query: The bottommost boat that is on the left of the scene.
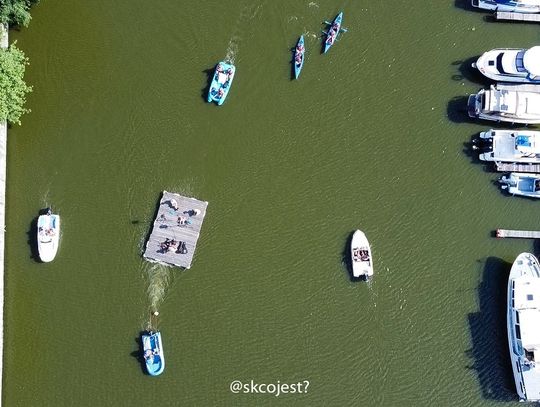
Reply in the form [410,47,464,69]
[141,331,162,378]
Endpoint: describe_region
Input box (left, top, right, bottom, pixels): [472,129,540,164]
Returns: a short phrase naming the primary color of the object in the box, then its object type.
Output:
white boat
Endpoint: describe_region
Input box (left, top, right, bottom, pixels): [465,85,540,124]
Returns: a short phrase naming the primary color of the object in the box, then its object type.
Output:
white boat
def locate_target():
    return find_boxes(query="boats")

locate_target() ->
[34,210,58,263]
[208,56,235,105]
[465,85,540,124]
[141,331,162,378]
[352,229,374,282]
[470,0,540,13]
[470,46,540,86]
[498,172,540,198]
[324,11,342,53]
[502,250,540,407]
[472,129,540,164]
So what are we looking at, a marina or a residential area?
marina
